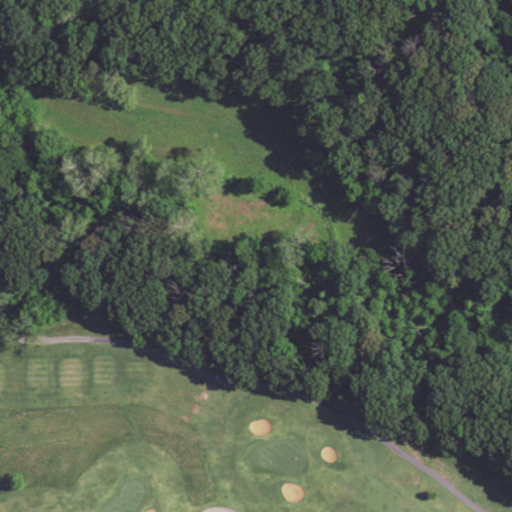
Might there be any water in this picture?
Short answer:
No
